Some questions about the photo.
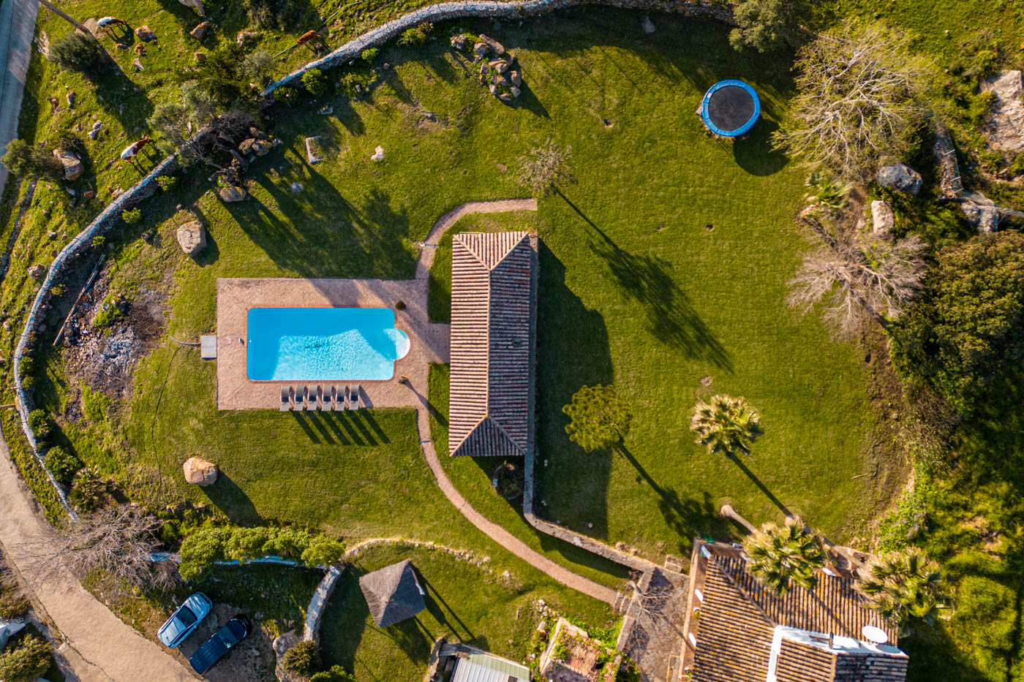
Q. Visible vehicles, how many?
2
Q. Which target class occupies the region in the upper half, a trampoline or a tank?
trampoline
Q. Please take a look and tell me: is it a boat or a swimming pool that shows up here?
swimming pool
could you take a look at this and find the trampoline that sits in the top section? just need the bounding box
[701,80,760,139]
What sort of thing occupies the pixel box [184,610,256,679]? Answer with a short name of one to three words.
vehicle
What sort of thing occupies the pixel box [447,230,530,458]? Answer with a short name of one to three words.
building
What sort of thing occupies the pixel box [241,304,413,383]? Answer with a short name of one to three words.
swimming pool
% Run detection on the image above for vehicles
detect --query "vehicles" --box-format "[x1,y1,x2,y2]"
[155,588,216,650]
[184,610,256,679]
